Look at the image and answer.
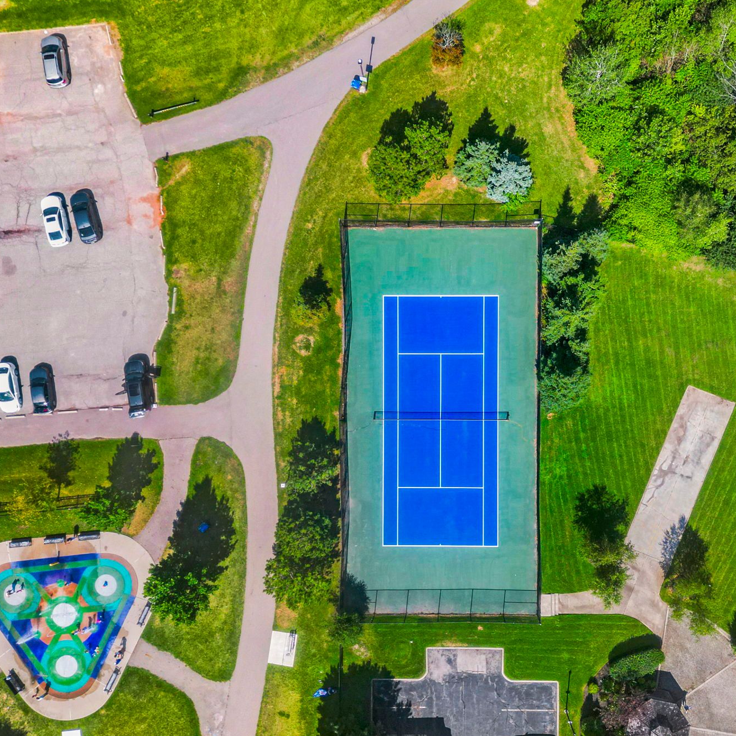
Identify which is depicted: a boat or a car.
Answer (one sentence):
The image shows a car.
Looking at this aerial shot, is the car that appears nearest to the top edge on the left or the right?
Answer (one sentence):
It is on the left.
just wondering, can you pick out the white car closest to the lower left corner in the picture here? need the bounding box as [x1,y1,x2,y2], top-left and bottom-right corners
[0,362,28,413]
